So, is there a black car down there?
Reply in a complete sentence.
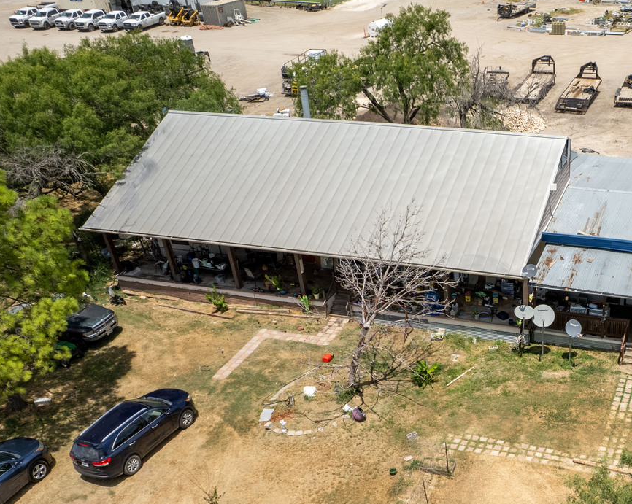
Yes, this view includes a black car.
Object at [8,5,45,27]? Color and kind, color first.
white truck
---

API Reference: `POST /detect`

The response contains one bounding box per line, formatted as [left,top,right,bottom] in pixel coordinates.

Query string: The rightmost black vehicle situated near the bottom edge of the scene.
[67,391,196,483]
